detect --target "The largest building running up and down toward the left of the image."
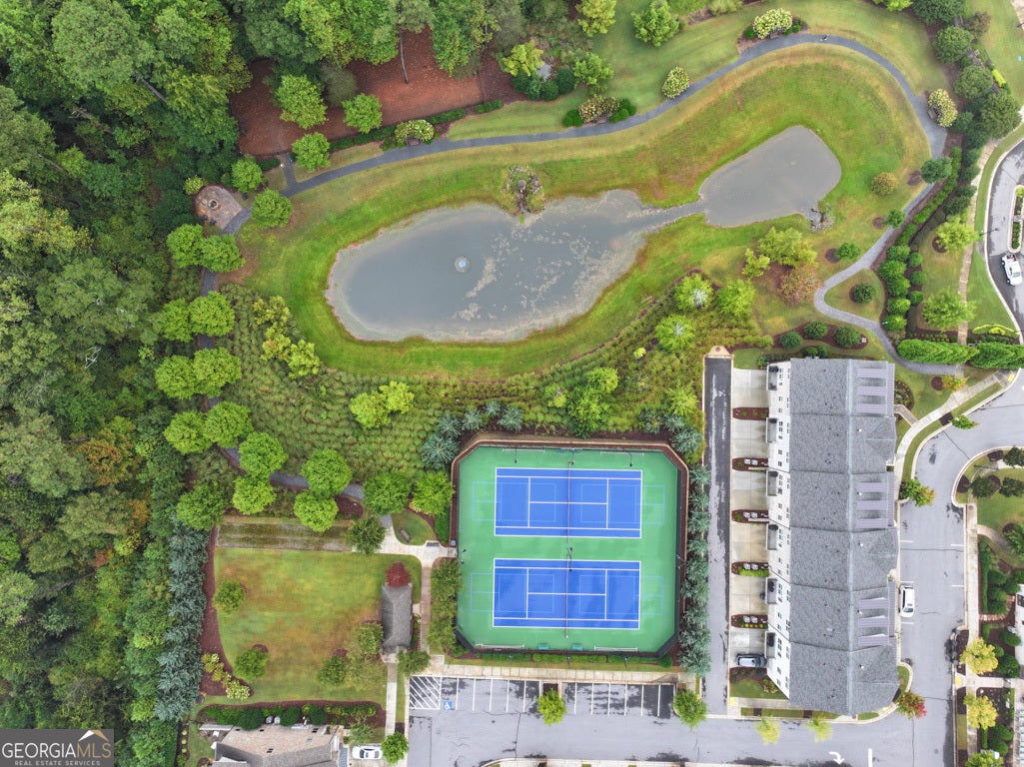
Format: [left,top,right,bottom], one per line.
[381,579,414,654]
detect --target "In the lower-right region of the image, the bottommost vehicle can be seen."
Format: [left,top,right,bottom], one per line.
[738,654,768,670]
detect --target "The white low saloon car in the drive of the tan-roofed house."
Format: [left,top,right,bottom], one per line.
[351,745,381,761]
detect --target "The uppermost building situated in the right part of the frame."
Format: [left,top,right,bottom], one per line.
[767,358,896,415]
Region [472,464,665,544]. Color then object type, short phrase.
blue tennis court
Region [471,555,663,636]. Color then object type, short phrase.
blue tennis court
